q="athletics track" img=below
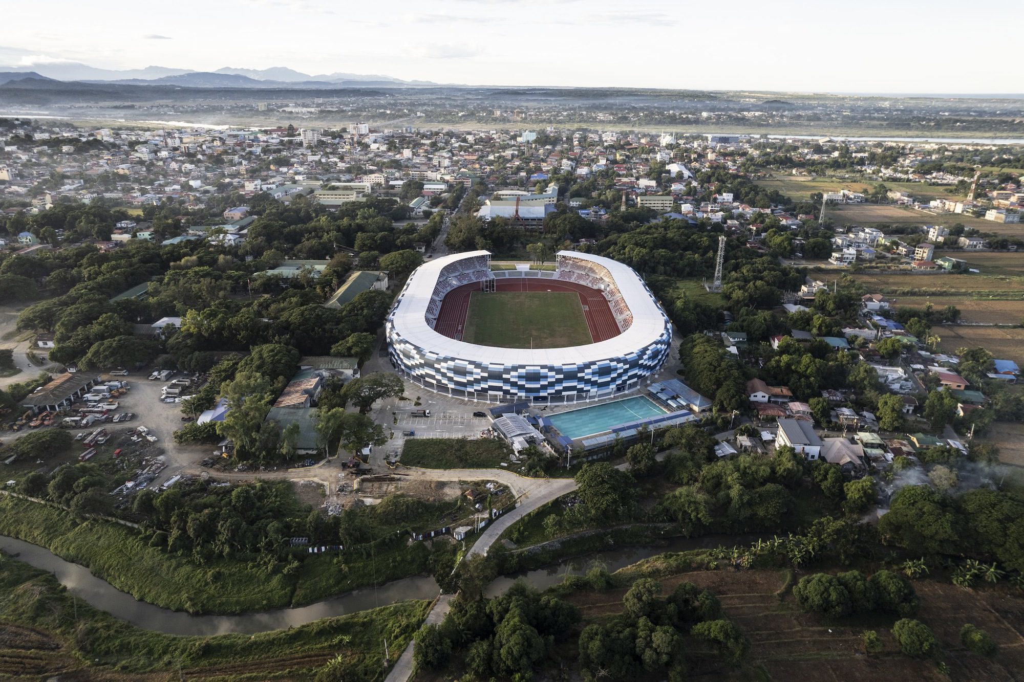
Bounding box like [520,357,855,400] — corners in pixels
[430,278,624,344]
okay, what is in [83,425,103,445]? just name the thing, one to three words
bus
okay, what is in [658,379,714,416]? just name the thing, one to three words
building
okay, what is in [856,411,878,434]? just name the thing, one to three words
house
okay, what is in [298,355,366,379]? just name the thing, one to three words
building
